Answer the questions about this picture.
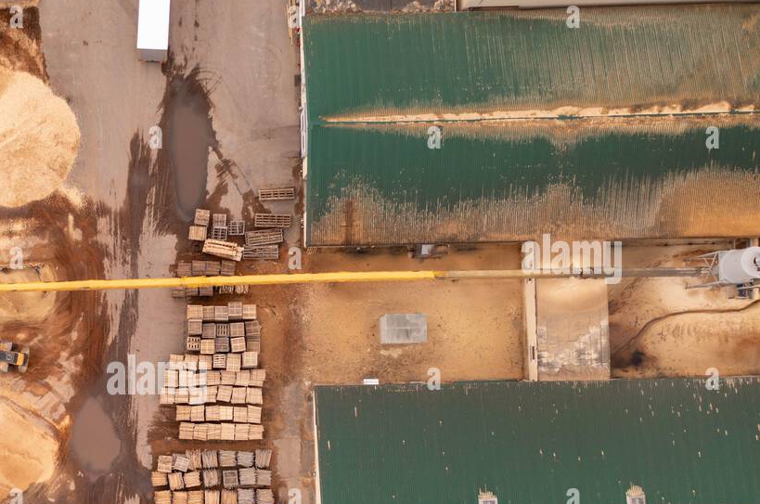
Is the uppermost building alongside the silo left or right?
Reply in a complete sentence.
The uppermost building alongside the silo appears in the right half of the scene.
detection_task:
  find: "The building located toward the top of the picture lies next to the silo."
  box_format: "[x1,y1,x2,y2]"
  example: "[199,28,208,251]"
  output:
[295,6,760,248]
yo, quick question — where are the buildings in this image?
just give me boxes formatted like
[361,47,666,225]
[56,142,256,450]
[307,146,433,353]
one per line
[310,374,760,504]
[295,6,760,248]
